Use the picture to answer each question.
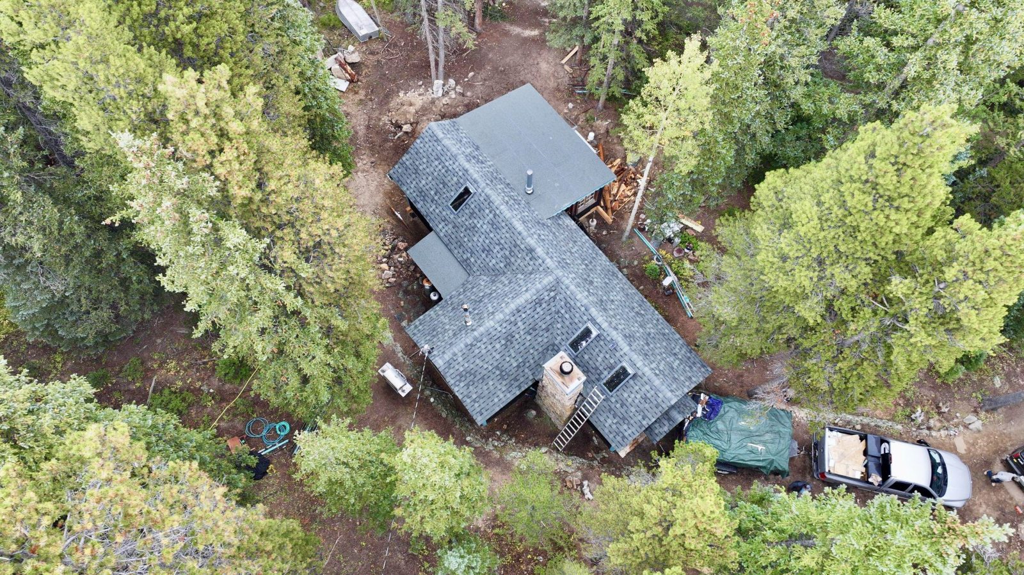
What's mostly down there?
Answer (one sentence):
What you mostly see from above here is trees.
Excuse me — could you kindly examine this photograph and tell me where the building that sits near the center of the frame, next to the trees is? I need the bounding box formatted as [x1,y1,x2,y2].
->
[387,84,712,454]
